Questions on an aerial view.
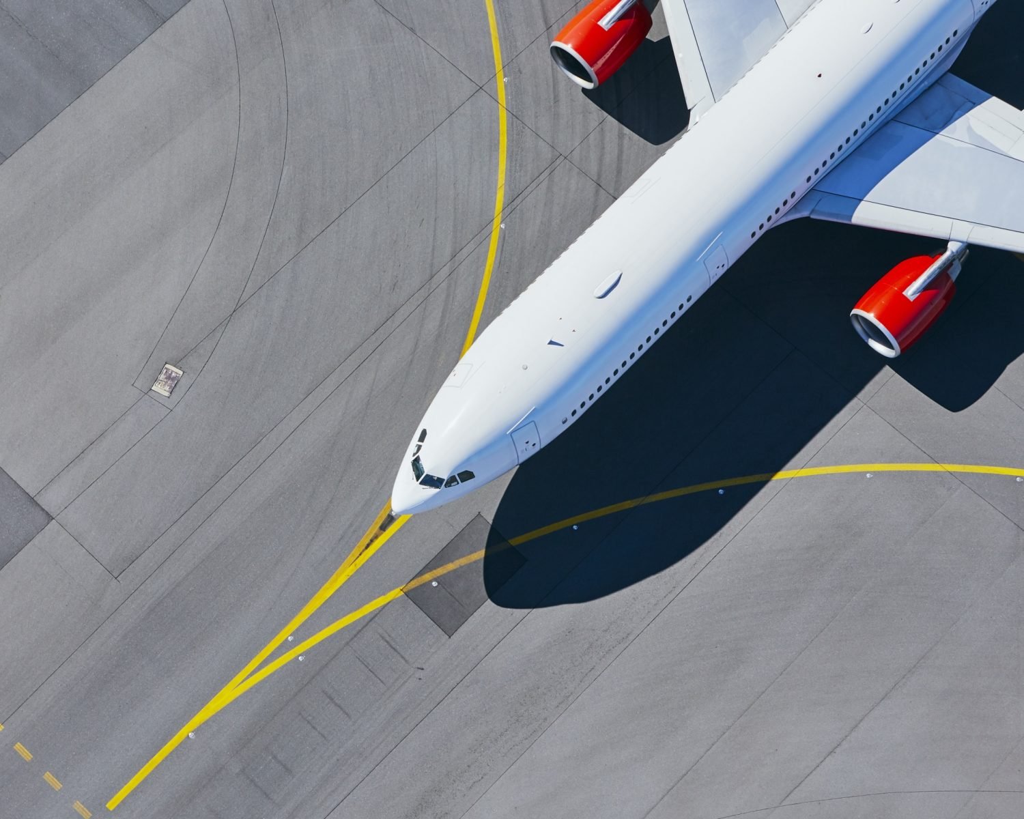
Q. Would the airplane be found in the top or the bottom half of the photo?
top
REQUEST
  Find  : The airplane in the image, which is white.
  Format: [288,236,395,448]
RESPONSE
[391,0,1024,515]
